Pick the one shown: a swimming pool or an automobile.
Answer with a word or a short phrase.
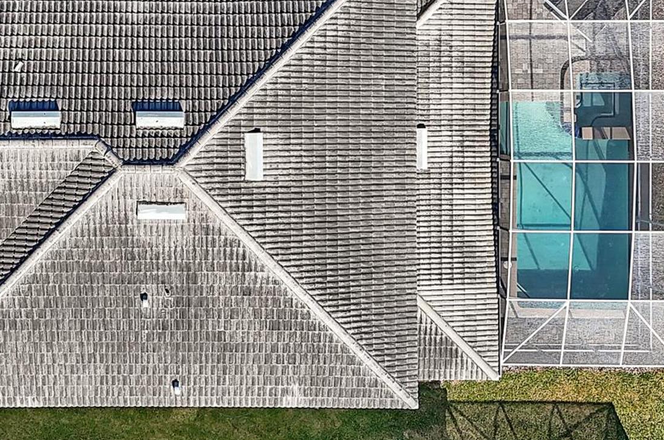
swimming pool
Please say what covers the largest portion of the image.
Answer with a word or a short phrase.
buildings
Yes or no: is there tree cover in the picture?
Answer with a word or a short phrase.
No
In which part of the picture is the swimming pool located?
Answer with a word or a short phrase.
right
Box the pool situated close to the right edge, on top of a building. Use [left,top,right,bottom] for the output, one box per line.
[501,55,640,317]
